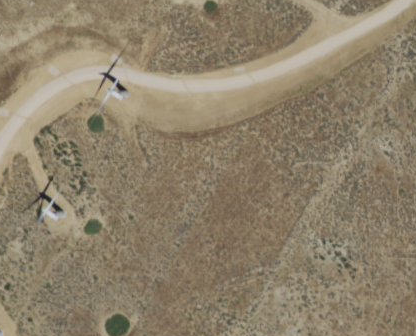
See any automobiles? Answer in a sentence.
No, no automobile can be seen from above.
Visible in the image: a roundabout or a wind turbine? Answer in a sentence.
I can see a wind turbine in this picture.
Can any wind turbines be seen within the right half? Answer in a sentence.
No, no wind turbine can be made out within the right half.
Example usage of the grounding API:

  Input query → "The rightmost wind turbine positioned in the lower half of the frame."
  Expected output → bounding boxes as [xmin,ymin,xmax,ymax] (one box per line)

[26,178,66,234]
